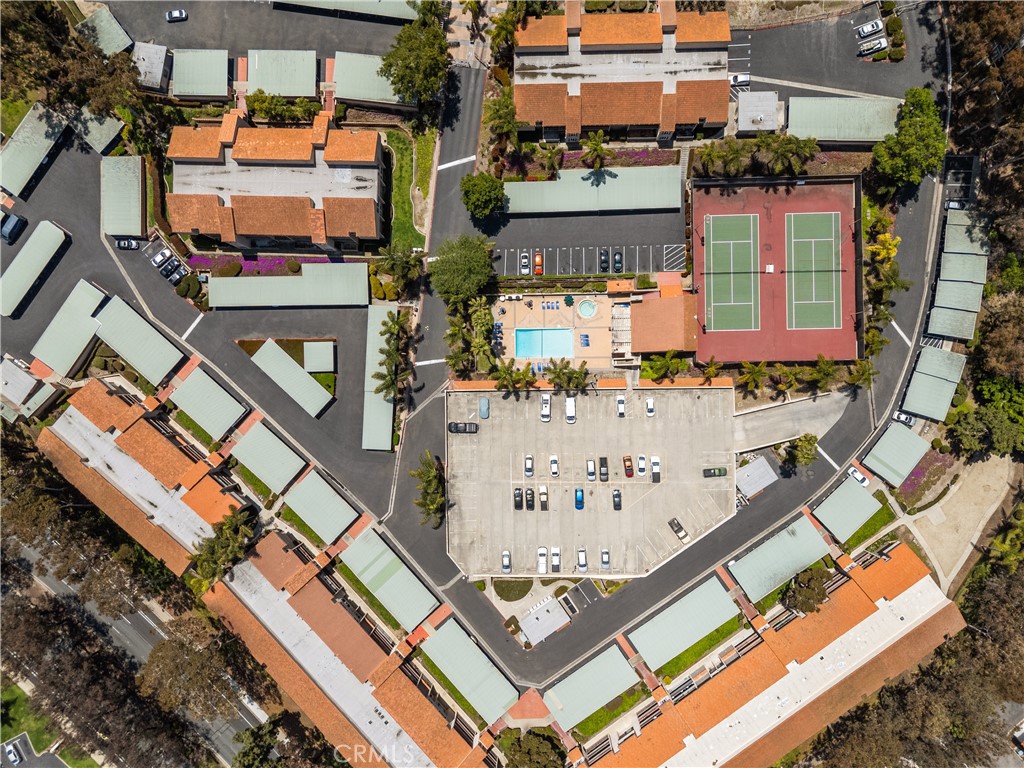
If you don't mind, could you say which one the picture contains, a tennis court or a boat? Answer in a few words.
tennis court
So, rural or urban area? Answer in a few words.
urban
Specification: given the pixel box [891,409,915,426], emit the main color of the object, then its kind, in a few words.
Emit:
white car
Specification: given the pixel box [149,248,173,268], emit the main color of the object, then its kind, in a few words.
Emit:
white car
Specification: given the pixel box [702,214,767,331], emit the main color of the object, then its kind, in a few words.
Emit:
green tennis court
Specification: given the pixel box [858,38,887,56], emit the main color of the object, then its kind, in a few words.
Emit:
white vehicle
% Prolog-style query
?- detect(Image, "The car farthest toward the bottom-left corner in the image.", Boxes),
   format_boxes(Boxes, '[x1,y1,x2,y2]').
[5,742,23,764]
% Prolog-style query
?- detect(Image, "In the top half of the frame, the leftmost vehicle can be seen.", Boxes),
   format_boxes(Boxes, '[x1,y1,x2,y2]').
[0,215,25,244]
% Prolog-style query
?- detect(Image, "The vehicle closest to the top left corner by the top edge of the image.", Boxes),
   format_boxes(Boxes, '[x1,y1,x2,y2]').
[166,10,189,22]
